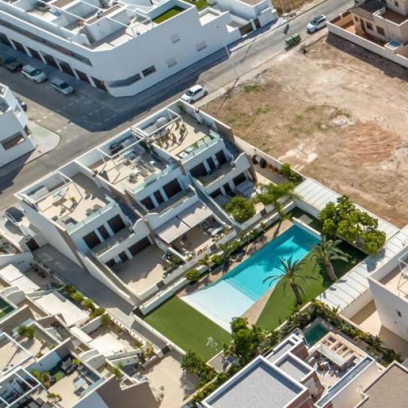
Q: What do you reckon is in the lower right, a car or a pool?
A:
pool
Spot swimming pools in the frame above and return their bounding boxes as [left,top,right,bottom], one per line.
[302,316,334,345]
[183,221,320,329]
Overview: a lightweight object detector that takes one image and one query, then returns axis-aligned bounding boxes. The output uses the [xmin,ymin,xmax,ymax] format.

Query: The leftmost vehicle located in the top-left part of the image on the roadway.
[0,51,21,73]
